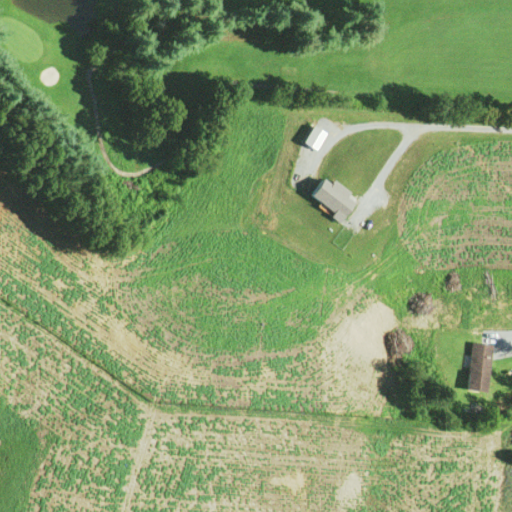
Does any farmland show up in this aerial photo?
Yes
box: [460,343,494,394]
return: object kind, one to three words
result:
house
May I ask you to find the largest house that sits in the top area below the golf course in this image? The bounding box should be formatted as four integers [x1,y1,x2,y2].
[312,179,358,228]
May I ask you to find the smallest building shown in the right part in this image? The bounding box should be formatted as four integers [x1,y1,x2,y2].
[305,125,329,150]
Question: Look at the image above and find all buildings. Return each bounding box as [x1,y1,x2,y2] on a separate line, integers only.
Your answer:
[460,343,494,394]
[312,179,358,228]
[305,125,329,150]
